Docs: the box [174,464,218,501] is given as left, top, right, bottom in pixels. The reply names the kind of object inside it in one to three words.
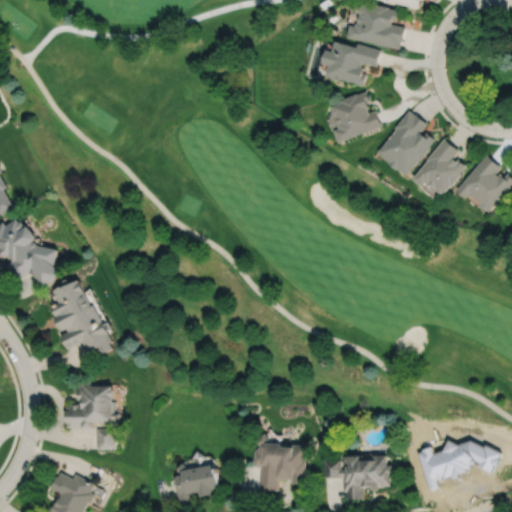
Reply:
house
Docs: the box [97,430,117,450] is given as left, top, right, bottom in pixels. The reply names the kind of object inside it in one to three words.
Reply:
building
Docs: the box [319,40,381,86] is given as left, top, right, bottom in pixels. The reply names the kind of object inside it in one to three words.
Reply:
house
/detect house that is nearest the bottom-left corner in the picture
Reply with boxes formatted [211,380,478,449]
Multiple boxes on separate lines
[54,472,96,512]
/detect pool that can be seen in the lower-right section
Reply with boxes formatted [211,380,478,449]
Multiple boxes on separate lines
[365,429,386,447]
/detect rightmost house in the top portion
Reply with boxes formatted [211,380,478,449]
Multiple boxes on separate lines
[457,154,512,213]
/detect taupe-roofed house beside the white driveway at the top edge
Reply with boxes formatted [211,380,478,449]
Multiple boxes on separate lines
[347,6,406,52]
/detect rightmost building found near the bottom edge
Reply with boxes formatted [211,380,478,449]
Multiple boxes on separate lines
[418,434,504,491]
